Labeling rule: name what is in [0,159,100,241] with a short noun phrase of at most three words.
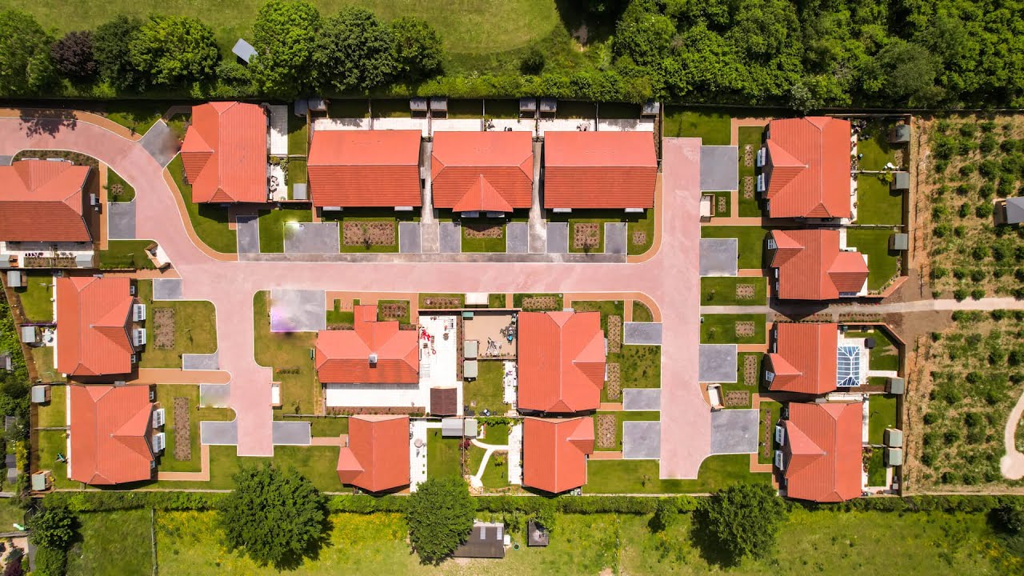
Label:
house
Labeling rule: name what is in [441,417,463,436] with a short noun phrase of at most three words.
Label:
shed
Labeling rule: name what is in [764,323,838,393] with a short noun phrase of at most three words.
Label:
house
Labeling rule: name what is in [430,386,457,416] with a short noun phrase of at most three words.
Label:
building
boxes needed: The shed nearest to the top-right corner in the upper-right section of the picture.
[889,126,912,144]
